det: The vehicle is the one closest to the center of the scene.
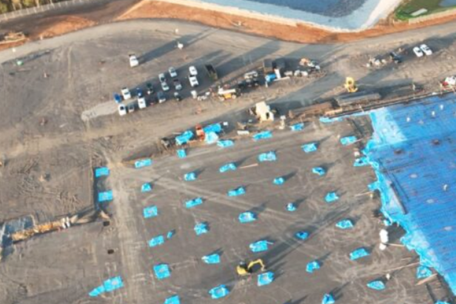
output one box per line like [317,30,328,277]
[195,122,212,137]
